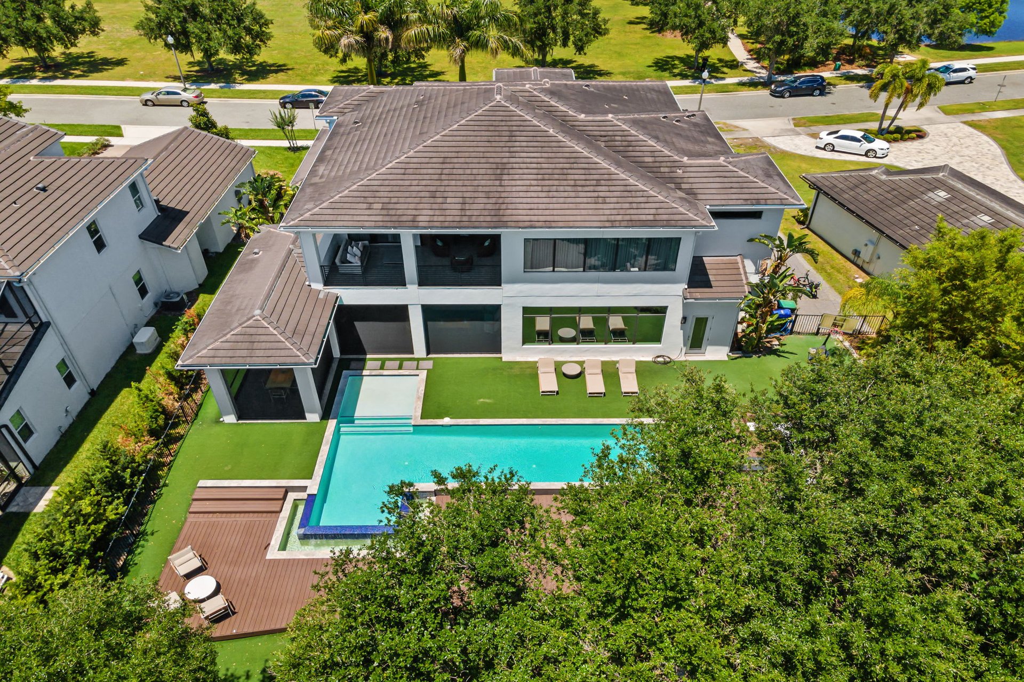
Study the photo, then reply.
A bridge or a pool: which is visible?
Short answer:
pool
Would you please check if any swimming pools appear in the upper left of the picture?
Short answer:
No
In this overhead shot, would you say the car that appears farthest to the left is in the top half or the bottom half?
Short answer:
top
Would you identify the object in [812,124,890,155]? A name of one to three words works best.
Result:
car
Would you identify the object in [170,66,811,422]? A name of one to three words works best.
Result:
house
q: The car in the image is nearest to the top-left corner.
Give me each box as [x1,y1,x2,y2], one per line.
[141,78,208,104]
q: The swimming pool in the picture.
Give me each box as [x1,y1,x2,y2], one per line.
[194,370,666,549]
